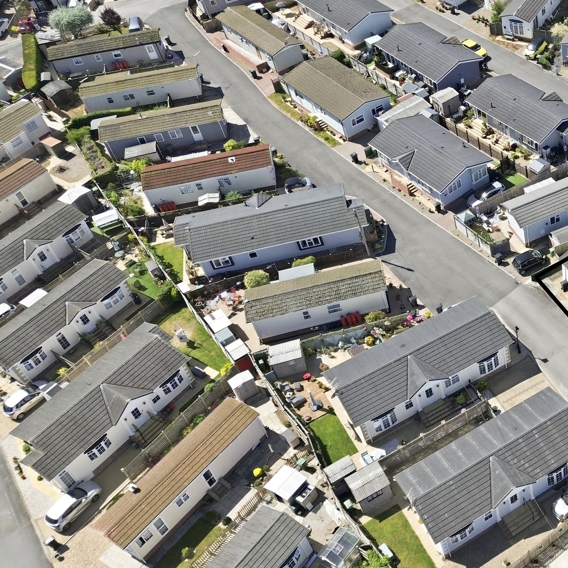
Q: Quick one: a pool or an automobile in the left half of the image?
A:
automobile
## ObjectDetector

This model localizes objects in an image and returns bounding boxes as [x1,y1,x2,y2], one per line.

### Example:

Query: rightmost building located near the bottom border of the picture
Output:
[393,387,568,556]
